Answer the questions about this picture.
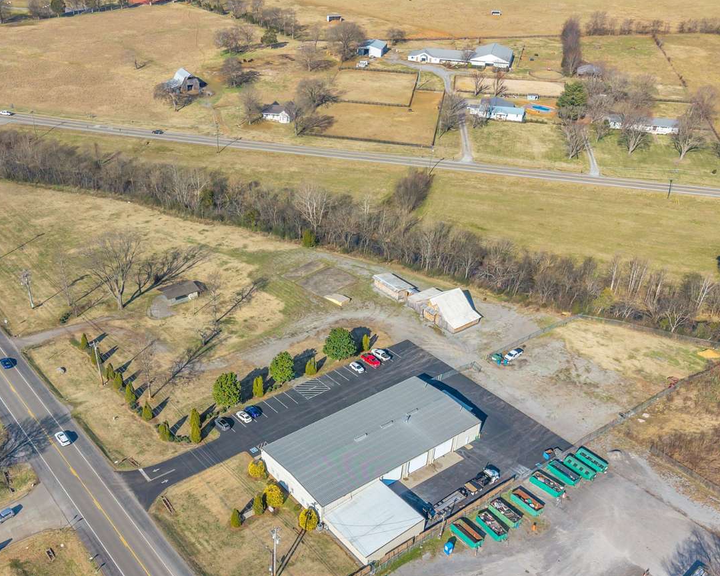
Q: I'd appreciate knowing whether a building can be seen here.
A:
Yes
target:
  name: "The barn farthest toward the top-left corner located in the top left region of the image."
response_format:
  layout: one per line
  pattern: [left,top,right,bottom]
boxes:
[160,65,210,92]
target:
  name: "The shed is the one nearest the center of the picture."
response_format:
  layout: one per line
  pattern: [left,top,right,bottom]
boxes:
[372,274,419,302]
